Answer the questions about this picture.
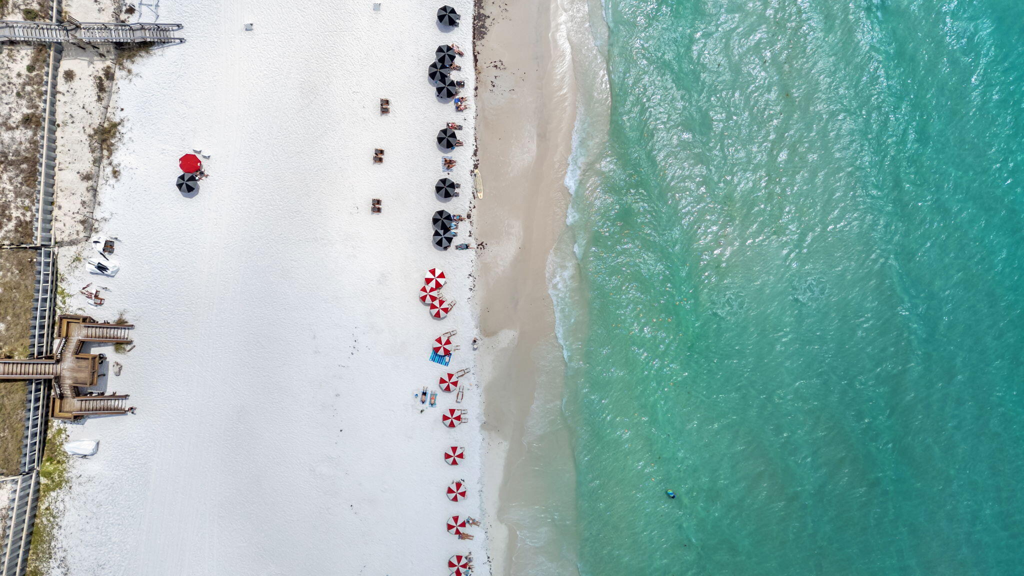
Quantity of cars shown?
zero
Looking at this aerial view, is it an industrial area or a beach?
beach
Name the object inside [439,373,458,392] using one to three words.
umbrella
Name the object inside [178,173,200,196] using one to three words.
umbrella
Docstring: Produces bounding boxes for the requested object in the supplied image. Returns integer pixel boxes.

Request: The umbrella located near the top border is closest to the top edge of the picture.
[437,7,458,29]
